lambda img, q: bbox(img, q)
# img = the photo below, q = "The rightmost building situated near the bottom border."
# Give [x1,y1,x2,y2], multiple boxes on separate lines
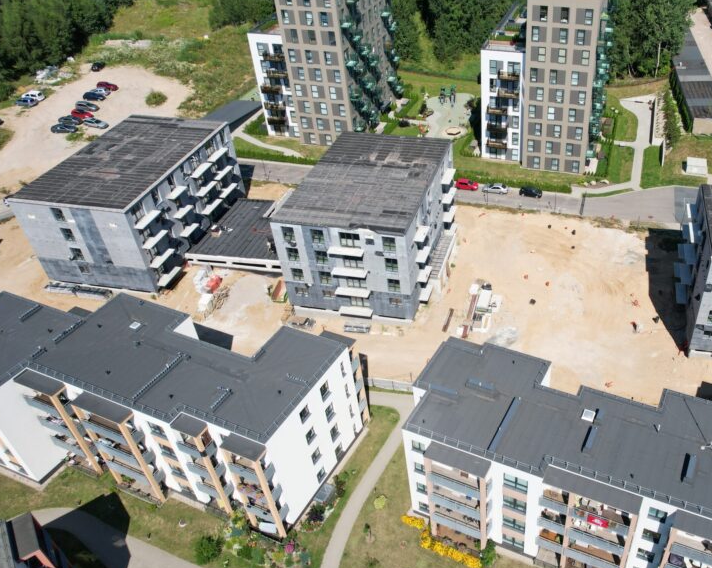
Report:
[402,341,712,568]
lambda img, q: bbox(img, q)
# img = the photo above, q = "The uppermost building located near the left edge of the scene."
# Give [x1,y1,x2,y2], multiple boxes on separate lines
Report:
[7,116,245,295]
